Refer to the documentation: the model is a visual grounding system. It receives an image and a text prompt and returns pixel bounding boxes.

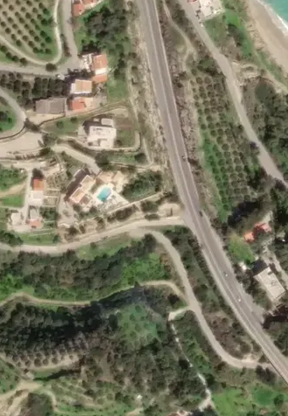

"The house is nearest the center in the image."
[69,170,126,210]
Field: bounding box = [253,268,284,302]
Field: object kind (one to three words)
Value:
building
